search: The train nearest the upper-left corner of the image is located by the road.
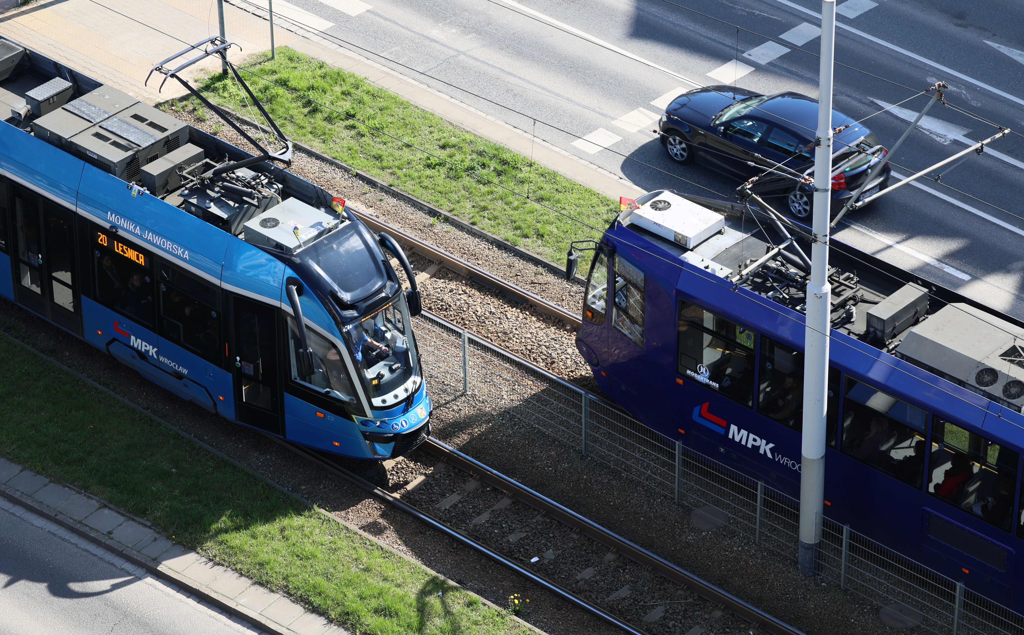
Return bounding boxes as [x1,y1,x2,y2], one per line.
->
[0,34,433,459]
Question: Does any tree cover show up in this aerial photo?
No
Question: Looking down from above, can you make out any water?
No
